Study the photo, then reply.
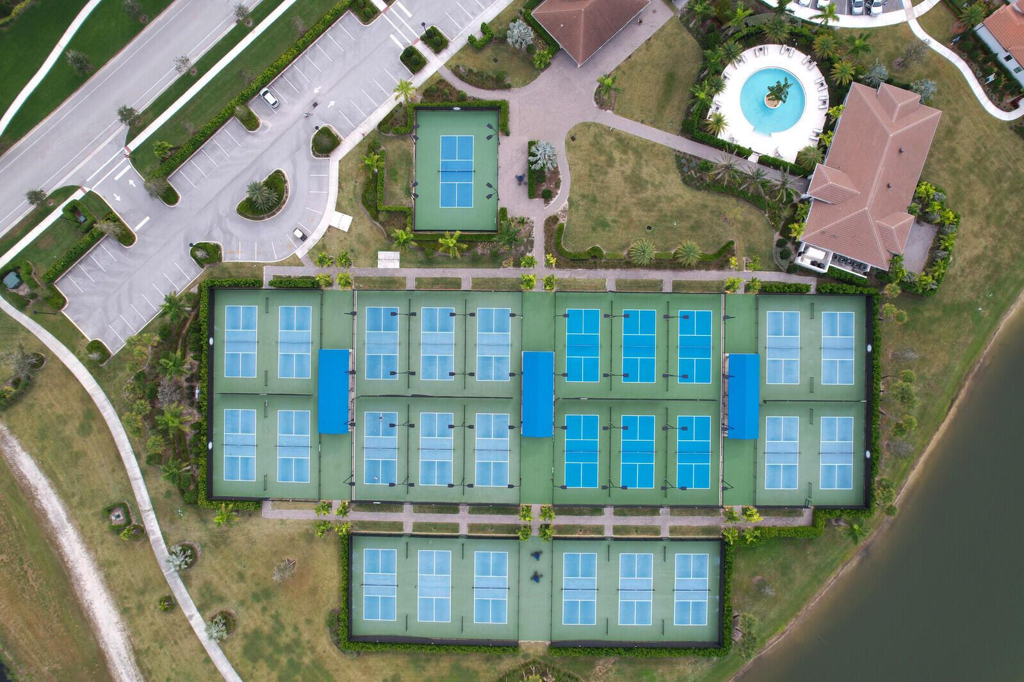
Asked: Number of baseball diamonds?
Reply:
none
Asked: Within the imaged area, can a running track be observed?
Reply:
No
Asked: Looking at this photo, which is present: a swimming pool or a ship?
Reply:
swimming pool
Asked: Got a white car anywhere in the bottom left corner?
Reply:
No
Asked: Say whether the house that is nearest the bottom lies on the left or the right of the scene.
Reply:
right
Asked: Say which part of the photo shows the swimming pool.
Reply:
top right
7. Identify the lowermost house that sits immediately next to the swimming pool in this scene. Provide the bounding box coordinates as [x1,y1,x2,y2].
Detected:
[796,82,942,271]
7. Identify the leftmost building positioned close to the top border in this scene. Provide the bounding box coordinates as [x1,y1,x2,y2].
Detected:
[531,0,649,69]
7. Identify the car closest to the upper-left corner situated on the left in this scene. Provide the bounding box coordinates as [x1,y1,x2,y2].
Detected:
[258,87,282,111]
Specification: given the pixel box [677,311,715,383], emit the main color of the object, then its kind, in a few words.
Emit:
blue sports court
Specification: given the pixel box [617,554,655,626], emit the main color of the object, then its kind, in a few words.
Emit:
blue sports court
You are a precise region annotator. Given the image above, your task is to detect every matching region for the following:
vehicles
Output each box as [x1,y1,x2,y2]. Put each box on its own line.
[293,229,308,242]
[850,0,864,16]
[258,87,282,111]
[869,0,882,16]
[815,0,829,10]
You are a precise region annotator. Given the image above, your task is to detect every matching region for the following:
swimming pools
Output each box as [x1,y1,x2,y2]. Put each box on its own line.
[707,44,829,162]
